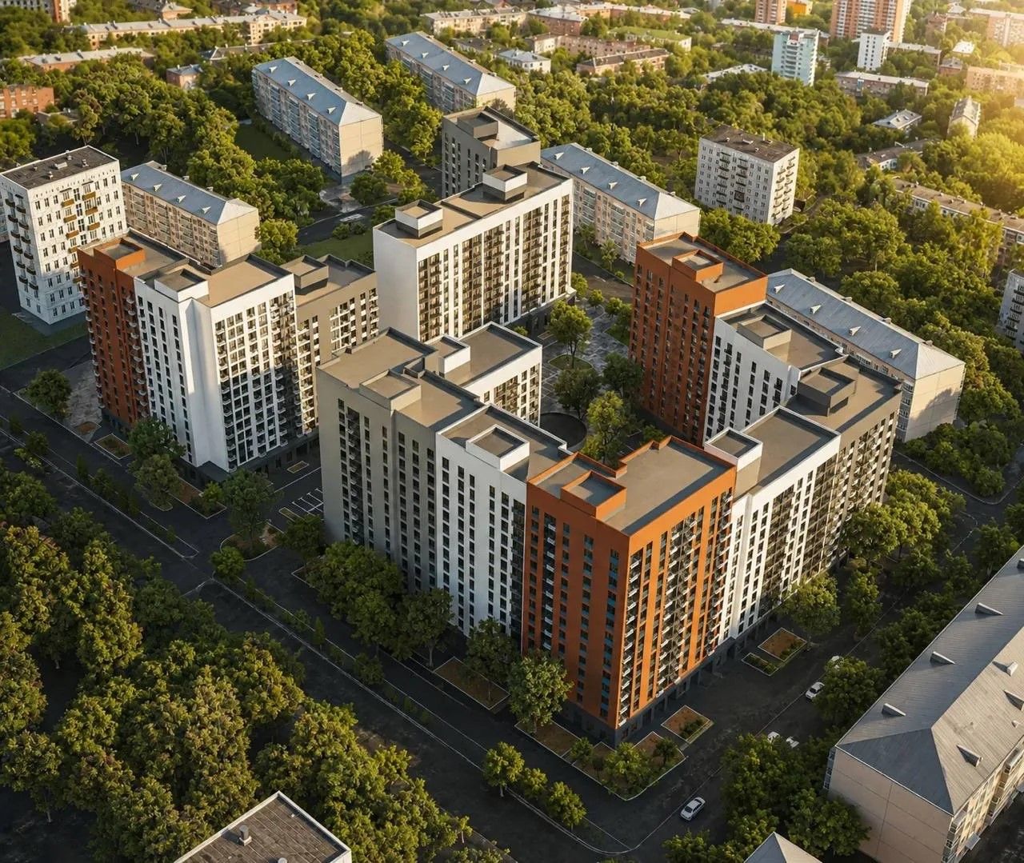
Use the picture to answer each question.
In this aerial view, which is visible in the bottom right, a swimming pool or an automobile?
automobile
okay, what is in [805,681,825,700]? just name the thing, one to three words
car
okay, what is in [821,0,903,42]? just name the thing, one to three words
building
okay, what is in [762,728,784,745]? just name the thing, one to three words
car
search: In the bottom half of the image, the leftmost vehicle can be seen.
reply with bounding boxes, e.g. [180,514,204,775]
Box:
[681,797,703,817]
